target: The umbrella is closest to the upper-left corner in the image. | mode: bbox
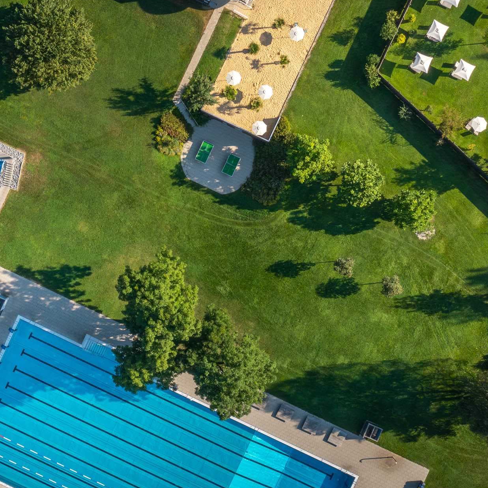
[225,71,241,86]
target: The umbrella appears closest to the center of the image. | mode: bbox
[252,120,267,135]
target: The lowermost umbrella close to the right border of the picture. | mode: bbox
[468,118,485,133]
